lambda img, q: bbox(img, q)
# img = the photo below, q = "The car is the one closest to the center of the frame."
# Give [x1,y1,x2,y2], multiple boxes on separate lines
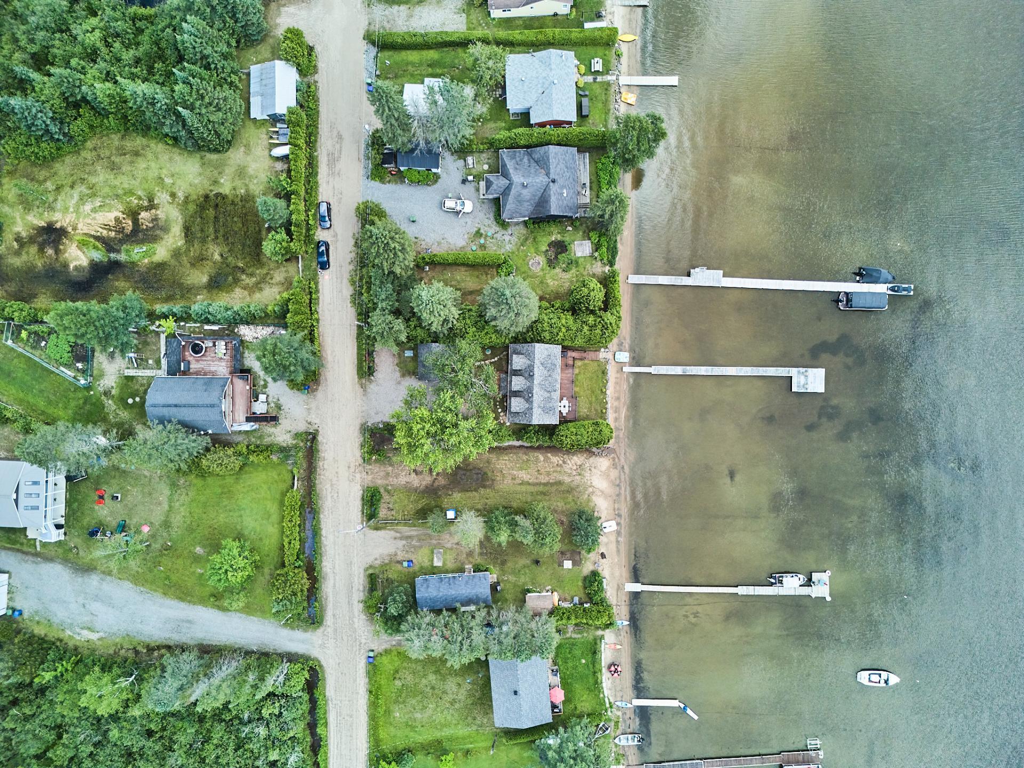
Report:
[441,194,472,217]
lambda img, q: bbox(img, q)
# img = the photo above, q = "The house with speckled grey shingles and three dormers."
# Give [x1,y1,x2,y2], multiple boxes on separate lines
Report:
[498,343,561,425]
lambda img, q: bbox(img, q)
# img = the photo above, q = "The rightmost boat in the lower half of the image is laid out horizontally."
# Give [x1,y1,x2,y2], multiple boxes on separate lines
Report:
[856,672,903,688]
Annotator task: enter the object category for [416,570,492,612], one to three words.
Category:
house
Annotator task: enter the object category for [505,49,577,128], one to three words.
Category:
house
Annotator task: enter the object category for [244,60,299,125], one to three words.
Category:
building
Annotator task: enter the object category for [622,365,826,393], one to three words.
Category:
pier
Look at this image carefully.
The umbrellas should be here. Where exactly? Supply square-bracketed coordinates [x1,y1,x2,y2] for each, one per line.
[610,663,621,676]
[550,687,563,702]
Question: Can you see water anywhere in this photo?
Yes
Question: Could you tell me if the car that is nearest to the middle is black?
No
